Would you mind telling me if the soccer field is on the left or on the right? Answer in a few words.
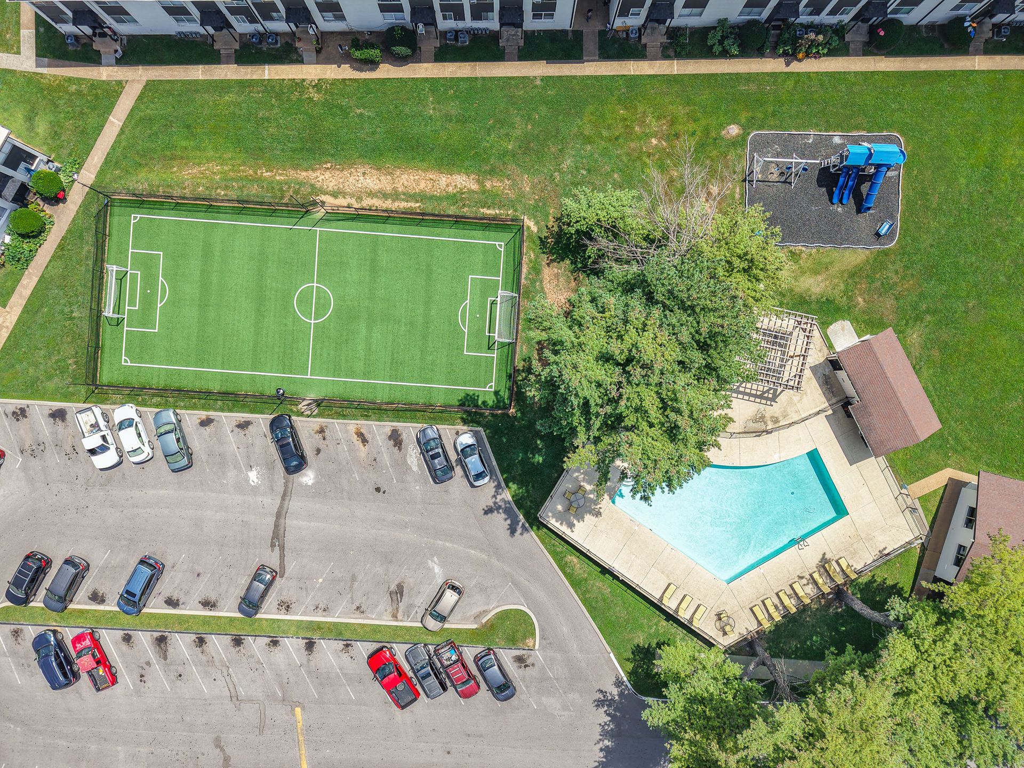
left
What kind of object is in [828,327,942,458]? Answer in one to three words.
building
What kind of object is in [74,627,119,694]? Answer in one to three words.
truck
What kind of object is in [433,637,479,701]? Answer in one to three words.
truck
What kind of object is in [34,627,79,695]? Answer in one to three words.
car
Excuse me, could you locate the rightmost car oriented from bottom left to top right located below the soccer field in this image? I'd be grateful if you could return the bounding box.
[422,576,466,633]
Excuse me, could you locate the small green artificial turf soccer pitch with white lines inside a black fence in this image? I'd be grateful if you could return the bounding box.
[92,196,524,411]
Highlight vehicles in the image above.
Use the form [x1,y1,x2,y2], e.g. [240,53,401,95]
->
[418,423,454,486]
[74,627,119,694]
[369,645,421,712]
[238,563,279,618]
[474,645,515,702]
[7,549,52,608]
[43,553,91,613]
[433,637,479,701]
[34,627,79,695]
[115,402,156,466]
[75,404,122,471]
[271,413,308,476]
[154,408,194,473]
[422,576,466,633]
[118,554,165,617]
[456,430,490,489]
[406,641,447,704]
